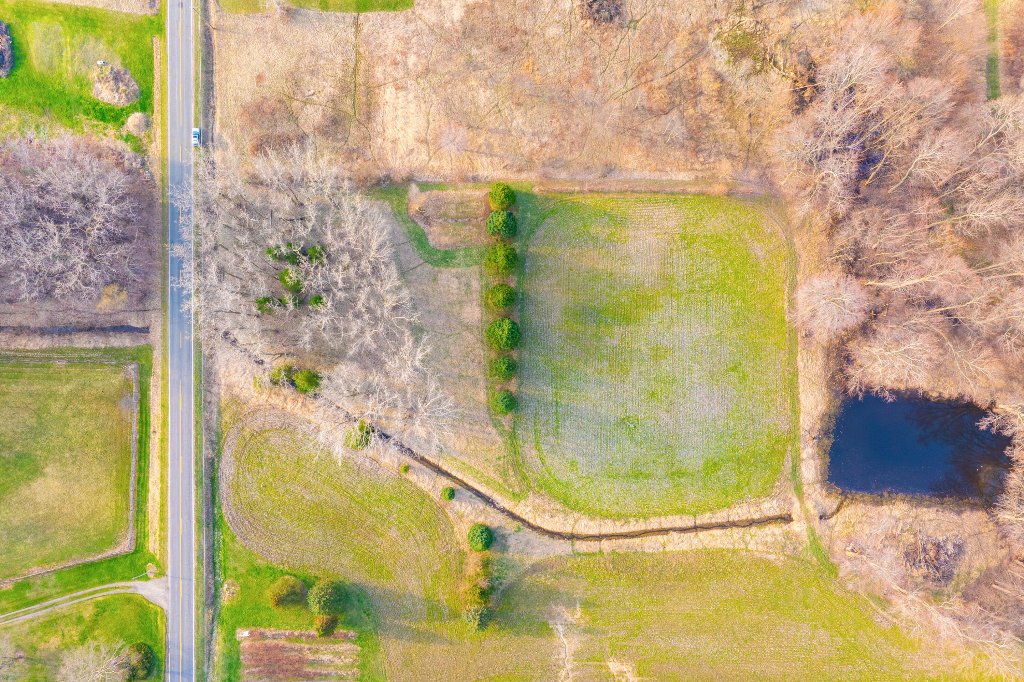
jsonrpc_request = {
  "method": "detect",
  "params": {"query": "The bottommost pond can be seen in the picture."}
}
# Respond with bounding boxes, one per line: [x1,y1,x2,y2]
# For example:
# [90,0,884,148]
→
[826,389,1022,504]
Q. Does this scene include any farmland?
Yes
